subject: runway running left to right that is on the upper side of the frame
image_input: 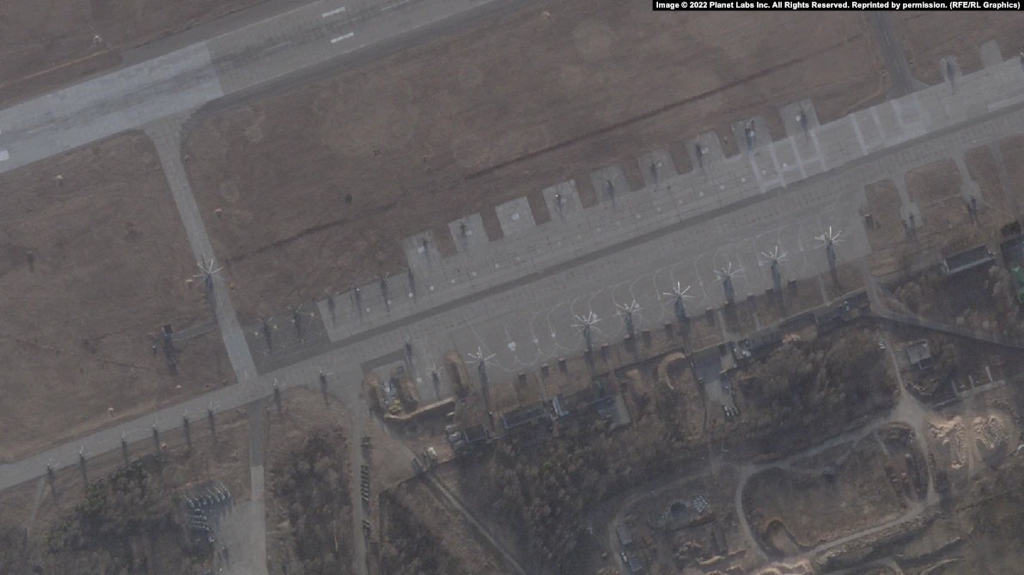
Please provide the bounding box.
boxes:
[206,0,492,95]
